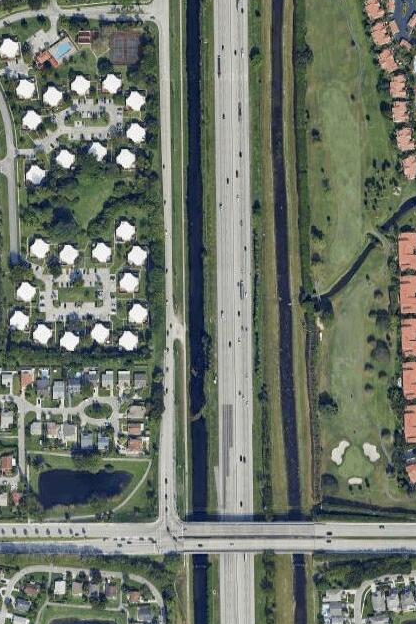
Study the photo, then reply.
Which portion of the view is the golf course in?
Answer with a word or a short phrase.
right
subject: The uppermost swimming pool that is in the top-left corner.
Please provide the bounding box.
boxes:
[49,37,74,61]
